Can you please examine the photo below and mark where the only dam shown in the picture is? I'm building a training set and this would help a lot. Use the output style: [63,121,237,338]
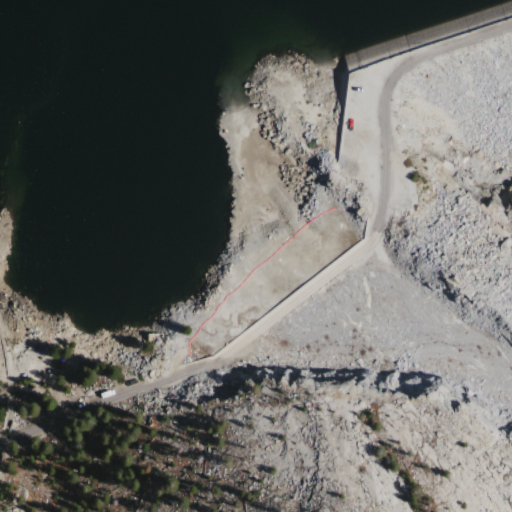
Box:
[344,0,512,72]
